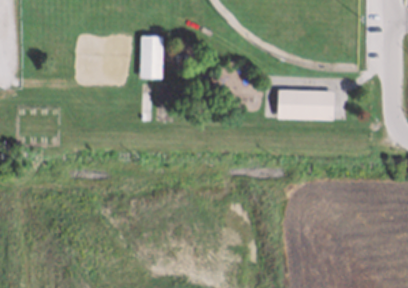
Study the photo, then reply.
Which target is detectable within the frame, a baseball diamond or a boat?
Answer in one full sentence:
I can see a baseball diamond in this picture.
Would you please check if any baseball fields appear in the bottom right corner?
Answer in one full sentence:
No, the scene shows no baseball field in the bottom right corner.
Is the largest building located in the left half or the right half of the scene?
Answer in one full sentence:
It is on the right.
